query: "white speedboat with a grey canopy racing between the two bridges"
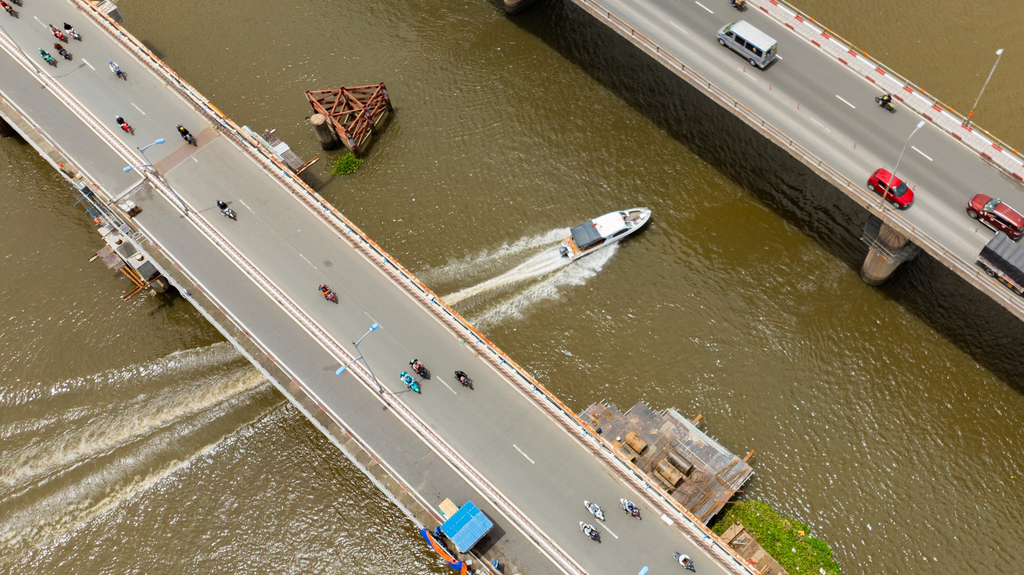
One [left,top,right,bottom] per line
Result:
[560,206,649,262]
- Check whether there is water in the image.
Yes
